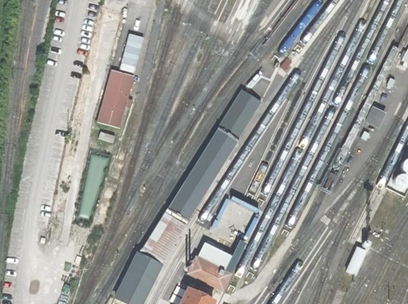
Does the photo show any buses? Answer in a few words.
Yes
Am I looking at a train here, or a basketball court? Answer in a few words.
train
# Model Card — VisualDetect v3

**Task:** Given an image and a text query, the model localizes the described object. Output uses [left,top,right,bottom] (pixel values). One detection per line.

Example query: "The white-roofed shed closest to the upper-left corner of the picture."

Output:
[119,32,142,73]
